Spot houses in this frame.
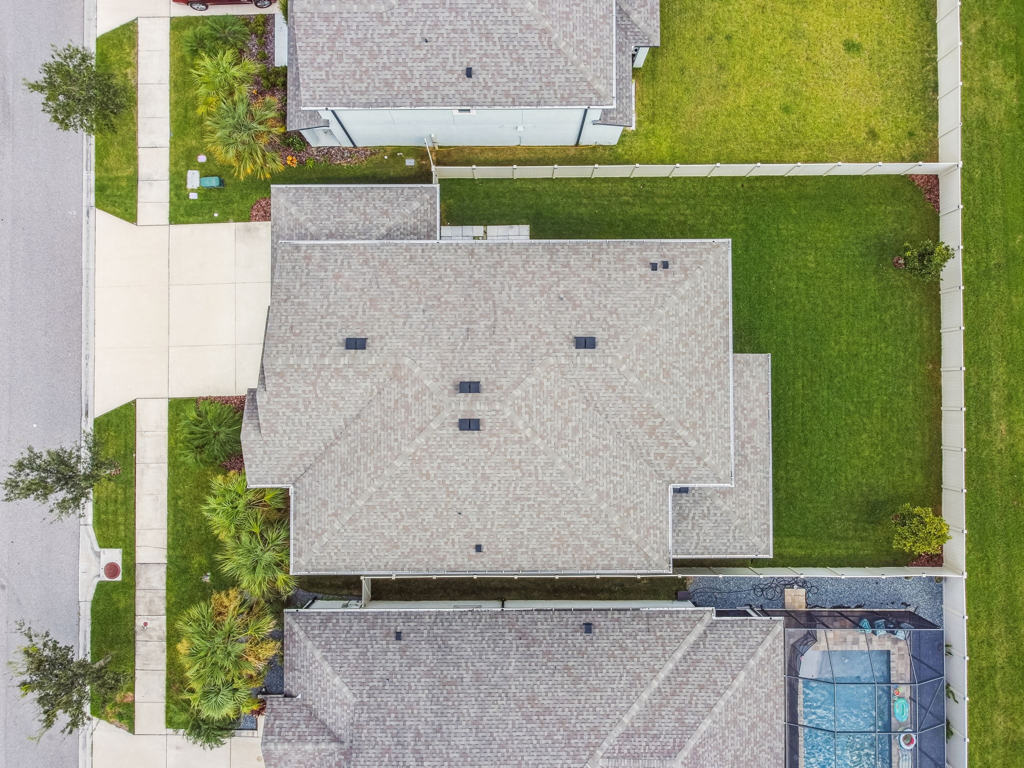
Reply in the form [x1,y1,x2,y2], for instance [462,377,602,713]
[241,183,774,577]
[261,598,786,768]
[287,0,663,151]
